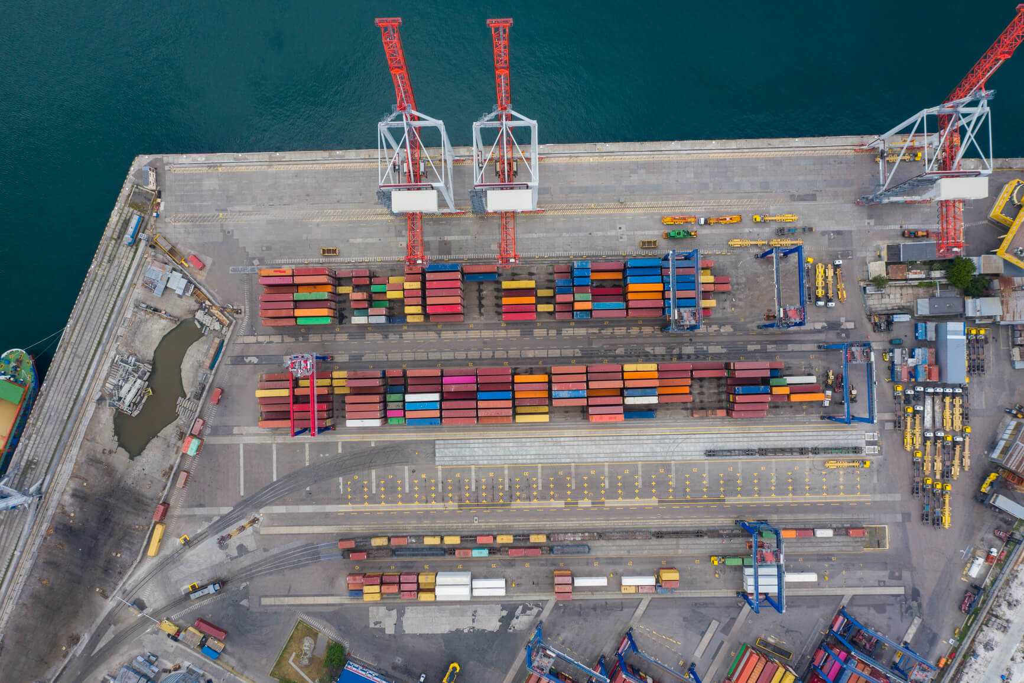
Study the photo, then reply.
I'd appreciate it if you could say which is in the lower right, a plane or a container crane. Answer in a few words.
container crane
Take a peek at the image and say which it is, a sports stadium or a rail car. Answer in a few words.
rail car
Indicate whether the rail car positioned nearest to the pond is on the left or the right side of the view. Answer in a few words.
left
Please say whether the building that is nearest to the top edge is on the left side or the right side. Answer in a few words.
left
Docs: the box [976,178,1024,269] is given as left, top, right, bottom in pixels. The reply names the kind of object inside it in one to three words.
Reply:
crane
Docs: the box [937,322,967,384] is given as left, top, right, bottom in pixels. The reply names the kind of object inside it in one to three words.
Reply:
building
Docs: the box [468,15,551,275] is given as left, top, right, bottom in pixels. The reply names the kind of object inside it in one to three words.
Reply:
container crane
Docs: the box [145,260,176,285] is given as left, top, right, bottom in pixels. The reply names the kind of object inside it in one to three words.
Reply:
shed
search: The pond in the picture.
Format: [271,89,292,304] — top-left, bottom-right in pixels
[113,317,204,459]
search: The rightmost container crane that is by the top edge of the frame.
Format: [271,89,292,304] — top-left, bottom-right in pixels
[854,1,1024,263]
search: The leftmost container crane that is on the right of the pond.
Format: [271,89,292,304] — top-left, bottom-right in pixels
[286,355,339,437]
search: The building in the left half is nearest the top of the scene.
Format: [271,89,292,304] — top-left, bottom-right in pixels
[141,166,162,192]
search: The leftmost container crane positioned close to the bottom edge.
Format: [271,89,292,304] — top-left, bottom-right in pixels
[523,617,611,683]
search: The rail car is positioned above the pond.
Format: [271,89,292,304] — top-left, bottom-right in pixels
[117,214,142,246]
